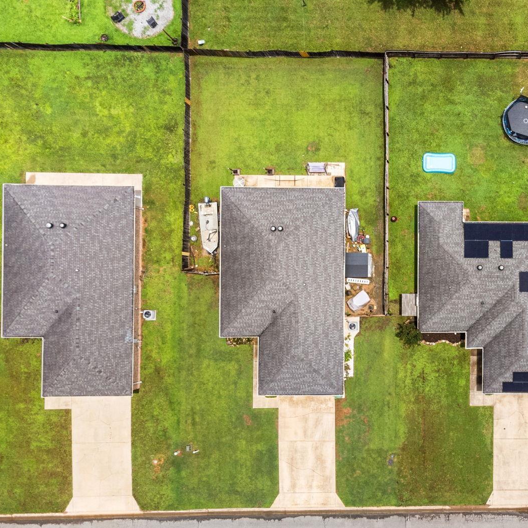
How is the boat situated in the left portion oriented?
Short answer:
up and down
